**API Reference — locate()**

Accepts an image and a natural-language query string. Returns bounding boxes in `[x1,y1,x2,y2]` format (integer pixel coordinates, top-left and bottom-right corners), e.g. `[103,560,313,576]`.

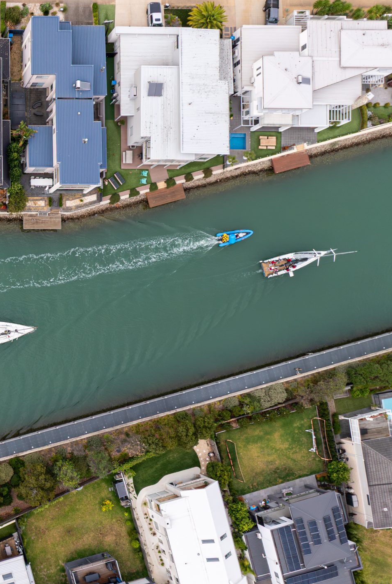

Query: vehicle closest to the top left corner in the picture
[146,1,165,27]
